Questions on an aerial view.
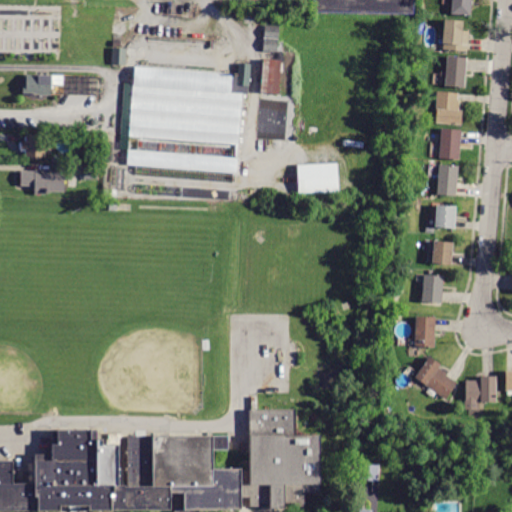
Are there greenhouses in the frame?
Yes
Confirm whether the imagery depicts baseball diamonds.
Yes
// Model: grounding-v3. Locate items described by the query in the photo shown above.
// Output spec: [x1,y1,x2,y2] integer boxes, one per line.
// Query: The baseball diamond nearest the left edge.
[0,344,42,416]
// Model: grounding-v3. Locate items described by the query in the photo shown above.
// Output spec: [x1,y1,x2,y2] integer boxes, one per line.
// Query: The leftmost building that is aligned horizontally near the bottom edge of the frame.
[34,398,320,512]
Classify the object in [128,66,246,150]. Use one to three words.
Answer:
greenhouse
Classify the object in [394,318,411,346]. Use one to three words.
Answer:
swimming pool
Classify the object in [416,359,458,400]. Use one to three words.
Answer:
house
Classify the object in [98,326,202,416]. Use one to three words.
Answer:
baseball field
